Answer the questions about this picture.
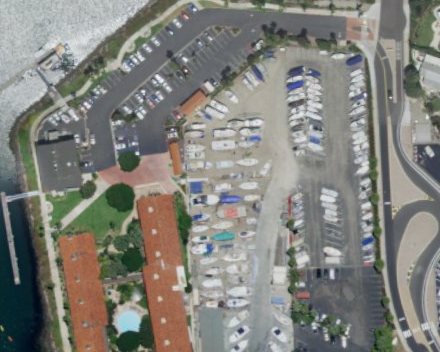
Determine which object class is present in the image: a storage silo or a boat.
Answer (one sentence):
I can see a boat in this picture.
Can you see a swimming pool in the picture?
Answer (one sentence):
Yes, the photo shows a swimming pool.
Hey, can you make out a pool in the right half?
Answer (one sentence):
No, no pool can be made out in the right half.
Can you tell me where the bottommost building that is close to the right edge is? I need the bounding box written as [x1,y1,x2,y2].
[414,123,432,142]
